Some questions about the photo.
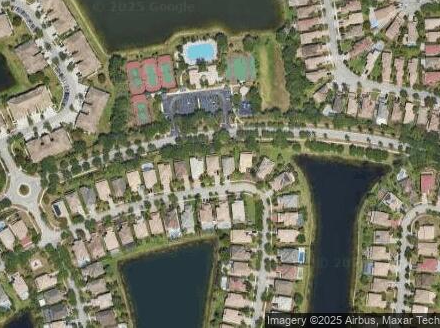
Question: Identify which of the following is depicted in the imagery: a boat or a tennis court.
tennis court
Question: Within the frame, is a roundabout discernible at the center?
No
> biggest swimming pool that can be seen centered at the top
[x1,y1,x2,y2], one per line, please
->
[183,40,218,65]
